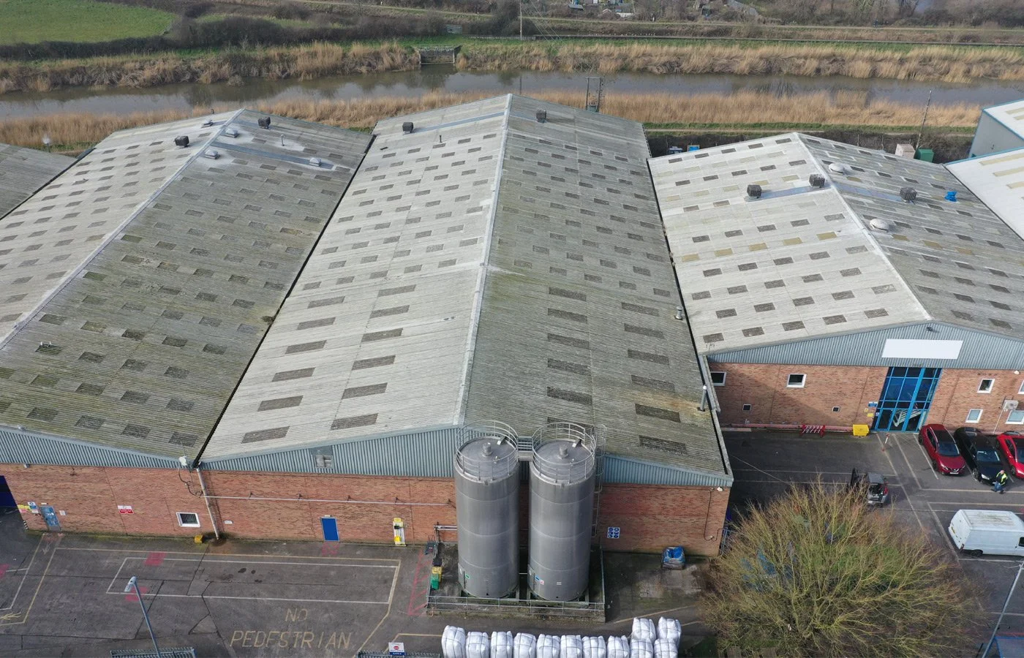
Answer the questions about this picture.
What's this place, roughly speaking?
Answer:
industrial area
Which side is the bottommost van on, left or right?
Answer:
right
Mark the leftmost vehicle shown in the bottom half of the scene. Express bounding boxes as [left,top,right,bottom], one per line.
[840,468,896,507]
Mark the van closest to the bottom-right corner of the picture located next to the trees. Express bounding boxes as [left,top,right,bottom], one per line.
[947,512,1024,558]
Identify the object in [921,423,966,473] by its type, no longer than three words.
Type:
car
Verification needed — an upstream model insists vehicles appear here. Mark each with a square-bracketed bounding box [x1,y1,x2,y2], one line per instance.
[996,428,1024,475]
[957,429,1007,479]
[947,512,1024,558]
[840,468,896,507]
[921,423,966,473]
